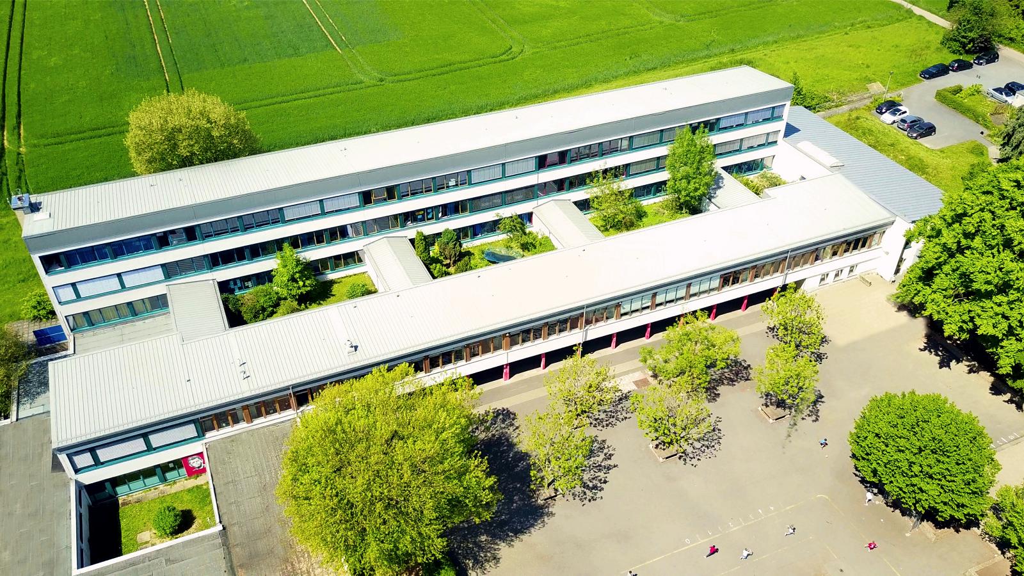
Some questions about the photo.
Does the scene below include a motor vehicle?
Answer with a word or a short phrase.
Yes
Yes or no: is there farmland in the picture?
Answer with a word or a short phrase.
Yes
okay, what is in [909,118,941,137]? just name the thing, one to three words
car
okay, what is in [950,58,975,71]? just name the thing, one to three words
vehicle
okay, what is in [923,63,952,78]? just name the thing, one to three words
car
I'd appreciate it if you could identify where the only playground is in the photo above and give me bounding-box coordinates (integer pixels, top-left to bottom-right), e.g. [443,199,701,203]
[334,275,1024,576]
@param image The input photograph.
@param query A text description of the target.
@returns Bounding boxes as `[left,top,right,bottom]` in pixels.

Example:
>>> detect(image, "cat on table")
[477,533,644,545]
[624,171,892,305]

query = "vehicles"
[977,49,1002,64]
[1003,78,1024,92]
[950,58,975,71]
[884,104,915,122]
[989,87,1021,105]
[923,63,952,78]
[875,97,906,112]
[909,118,941,137]
[899,113,926,129]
